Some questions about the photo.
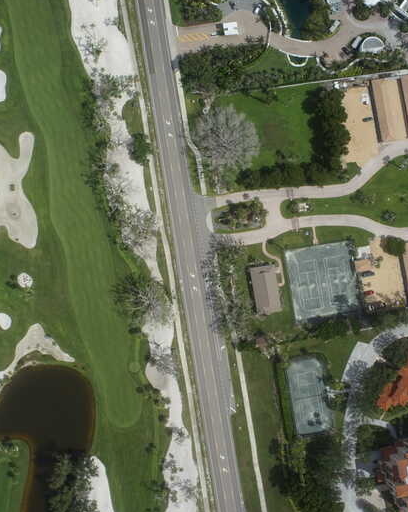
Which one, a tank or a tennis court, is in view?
tennis court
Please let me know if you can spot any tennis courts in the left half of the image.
No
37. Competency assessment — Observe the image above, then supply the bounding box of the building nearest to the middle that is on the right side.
[250,264,287,315]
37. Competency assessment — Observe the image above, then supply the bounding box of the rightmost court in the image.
[316,241,361,314]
